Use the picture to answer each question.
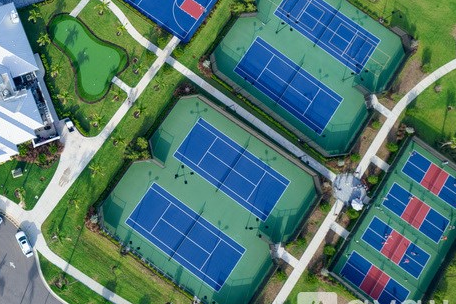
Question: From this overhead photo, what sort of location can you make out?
sports ground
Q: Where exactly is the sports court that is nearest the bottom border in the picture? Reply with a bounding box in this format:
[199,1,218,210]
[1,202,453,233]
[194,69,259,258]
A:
[336,248,414,304]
